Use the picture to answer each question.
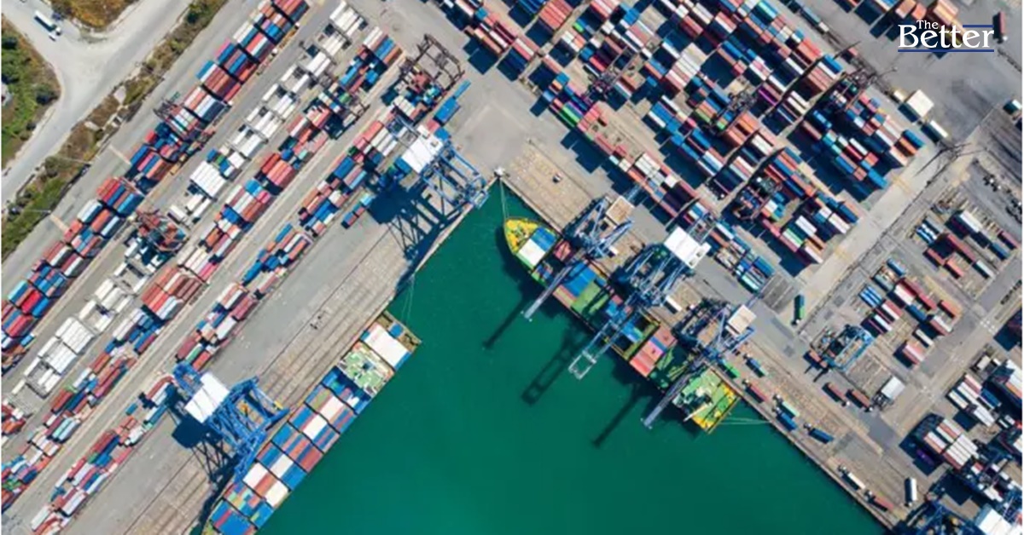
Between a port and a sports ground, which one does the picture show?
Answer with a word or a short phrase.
port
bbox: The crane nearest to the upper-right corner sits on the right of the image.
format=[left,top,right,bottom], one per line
[809,63,877,125]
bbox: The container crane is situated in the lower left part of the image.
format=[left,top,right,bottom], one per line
[176,372,292,498]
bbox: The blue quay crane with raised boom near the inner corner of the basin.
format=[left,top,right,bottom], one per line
[387,134,485,225]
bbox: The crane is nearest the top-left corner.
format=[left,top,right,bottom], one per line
[157,97,224,153]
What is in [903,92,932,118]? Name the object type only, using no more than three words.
shed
